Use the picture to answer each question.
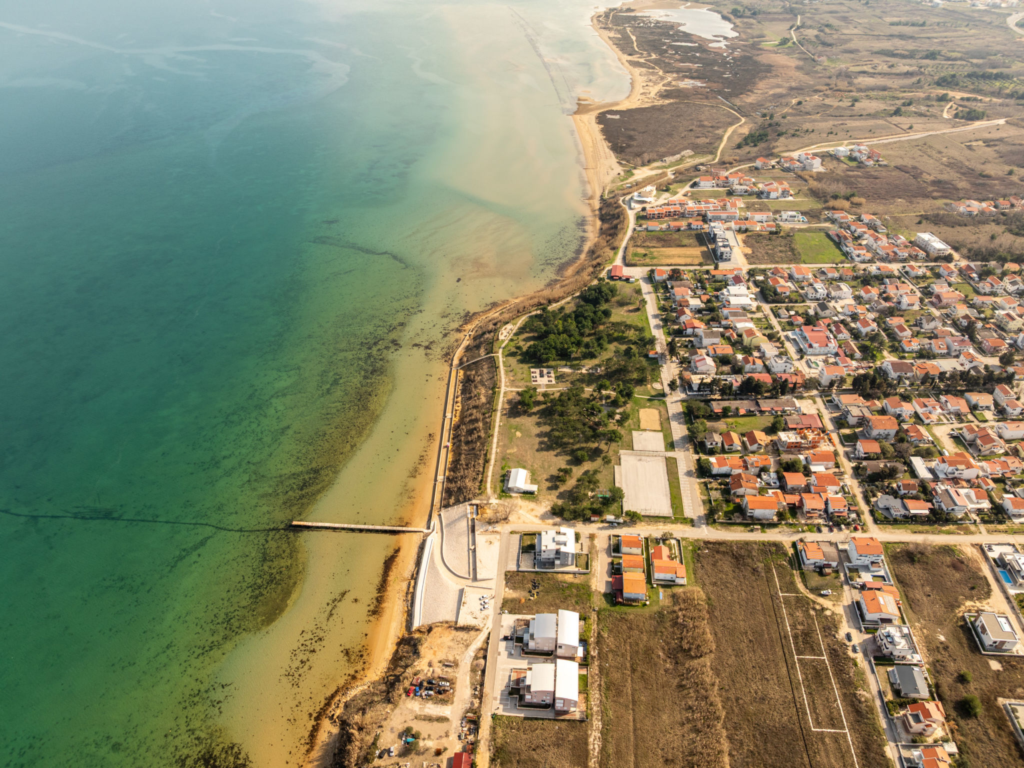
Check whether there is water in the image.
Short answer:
Yes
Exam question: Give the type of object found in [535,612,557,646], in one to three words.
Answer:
house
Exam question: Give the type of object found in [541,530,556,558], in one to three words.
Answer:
building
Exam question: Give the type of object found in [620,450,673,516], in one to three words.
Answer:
sports court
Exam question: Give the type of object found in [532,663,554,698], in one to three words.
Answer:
house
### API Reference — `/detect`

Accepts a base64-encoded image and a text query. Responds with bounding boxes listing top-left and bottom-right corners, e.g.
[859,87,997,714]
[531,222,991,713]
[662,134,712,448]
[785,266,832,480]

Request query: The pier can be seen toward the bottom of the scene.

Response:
[291,520,428,533]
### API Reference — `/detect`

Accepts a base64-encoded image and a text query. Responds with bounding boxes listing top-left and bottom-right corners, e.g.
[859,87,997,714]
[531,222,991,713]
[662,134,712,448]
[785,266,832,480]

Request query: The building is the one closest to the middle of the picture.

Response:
[509,467,527,491]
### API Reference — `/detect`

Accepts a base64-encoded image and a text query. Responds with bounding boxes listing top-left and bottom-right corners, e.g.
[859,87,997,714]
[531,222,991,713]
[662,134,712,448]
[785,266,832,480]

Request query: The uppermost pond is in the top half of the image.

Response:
[624,8,739,47]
